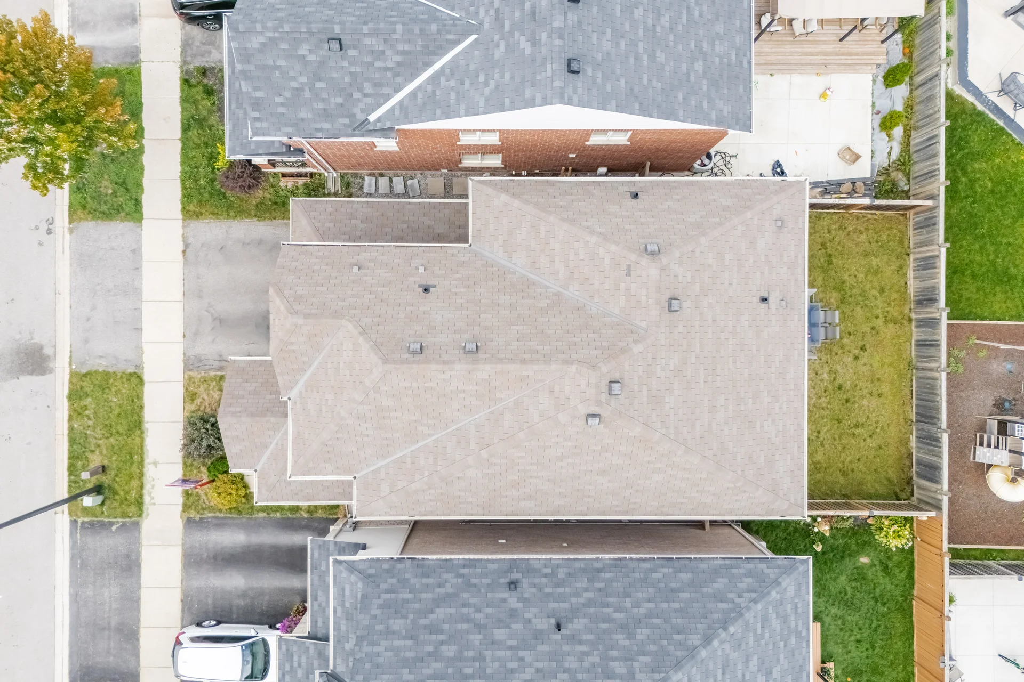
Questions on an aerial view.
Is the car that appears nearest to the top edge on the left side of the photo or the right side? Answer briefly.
left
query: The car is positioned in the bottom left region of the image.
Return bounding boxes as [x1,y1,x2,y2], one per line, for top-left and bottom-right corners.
[172,617,301,682]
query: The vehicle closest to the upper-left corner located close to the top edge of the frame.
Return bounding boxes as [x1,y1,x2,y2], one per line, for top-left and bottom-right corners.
[173,0,240,27]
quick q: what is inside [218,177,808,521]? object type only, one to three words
house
